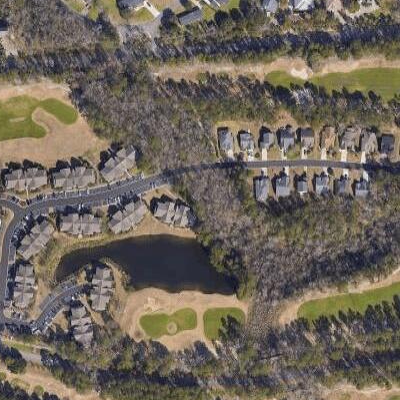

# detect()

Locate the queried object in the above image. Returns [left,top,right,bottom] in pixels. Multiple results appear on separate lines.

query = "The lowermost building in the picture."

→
[71,306,95,345]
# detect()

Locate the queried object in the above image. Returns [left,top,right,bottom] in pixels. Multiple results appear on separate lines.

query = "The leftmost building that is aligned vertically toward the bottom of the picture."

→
[15,266,34,308]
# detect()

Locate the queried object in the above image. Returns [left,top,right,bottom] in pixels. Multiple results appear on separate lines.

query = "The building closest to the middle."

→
[154,202,195,225]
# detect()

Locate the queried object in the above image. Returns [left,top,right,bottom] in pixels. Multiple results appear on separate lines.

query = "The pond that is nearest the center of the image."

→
[58,236,231,292]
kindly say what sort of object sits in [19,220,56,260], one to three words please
building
